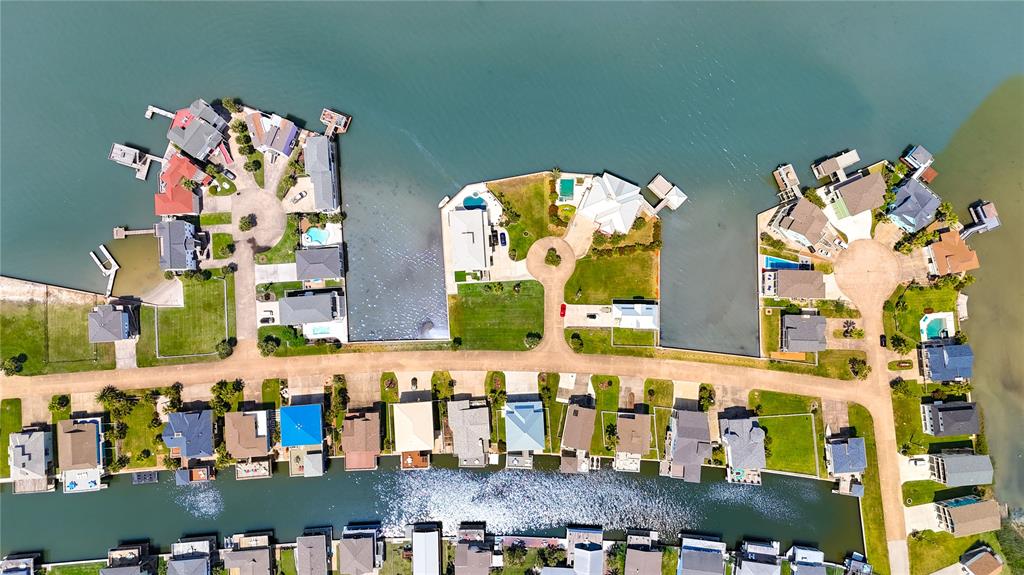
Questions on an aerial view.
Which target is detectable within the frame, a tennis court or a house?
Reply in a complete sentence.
It is a house that can be seen here.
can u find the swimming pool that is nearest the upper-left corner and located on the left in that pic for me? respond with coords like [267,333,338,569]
[304,228,330,246]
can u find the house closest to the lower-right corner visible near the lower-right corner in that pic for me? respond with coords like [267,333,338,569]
[955,539,1003,575]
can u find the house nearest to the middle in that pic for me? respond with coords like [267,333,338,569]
[449,204,494,279]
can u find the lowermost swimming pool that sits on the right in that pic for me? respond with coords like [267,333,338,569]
[926,317,948,340]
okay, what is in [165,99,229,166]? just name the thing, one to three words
house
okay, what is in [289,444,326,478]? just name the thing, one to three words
building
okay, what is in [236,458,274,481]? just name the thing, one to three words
pier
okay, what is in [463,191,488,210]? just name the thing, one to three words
swimming pool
